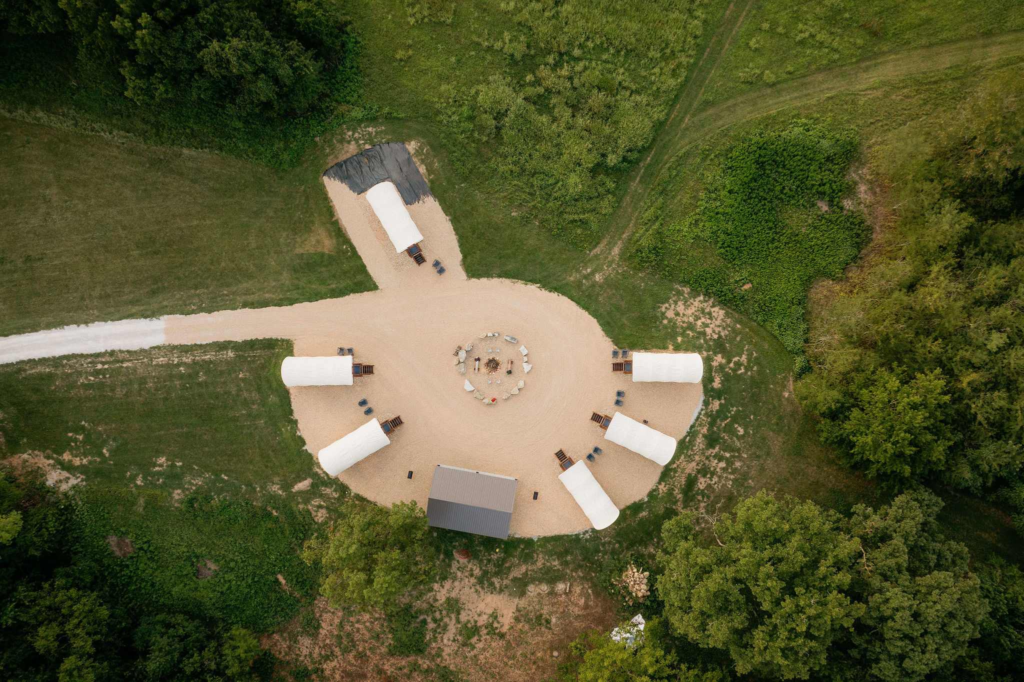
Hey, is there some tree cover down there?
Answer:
Yes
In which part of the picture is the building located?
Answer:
bottom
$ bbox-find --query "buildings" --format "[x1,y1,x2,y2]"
[425,463,517,539]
